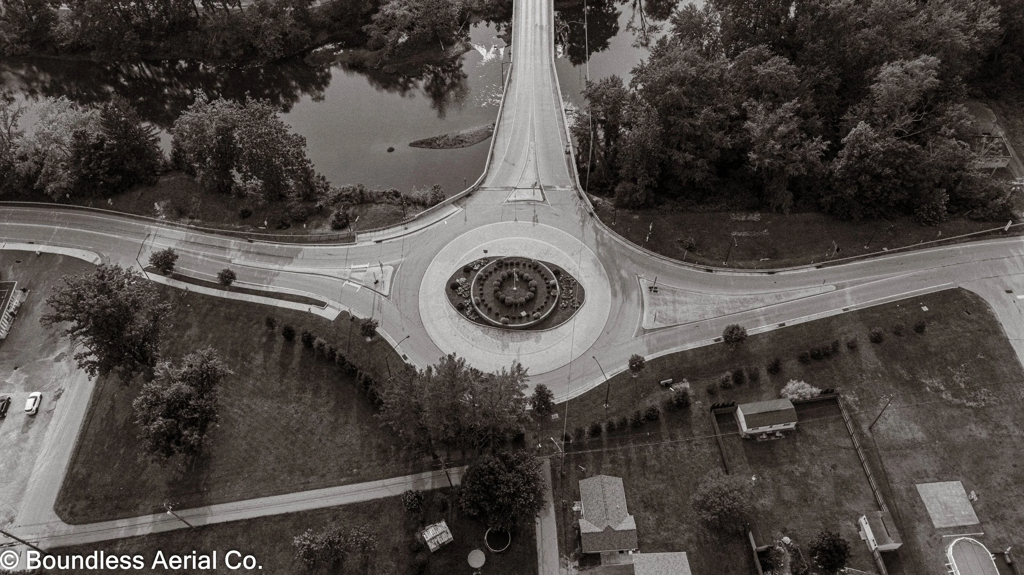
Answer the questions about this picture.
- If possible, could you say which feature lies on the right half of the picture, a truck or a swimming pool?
swimming pool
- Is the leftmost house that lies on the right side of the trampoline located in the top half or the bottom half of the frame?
bottom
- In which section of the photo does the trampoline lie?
bottom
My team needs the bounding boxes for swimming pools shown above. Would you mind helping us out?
[483,526,512,558]
[943,537,1002,575]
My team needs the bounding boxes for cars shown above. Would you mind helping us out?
[0,393,10,418]
[21,390,43,415]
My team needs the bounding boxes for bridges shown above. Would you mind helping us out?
[474,0,585,191]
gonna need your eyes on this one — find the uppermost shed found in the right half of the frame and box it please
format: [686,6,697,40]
[736,399,798,434]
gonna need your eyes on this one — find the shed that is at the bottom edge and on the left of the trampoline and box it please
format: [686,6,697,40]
[422,520,453,556]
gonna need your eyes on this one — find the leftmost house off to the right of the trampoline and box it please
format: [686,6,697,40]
[578,474,638,559]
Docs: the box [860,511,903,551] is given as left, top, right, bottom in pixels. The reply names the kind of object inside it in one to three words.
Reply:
shed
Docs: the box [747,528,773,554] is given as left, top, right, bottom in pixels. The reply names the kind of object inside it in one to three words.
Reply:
shed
